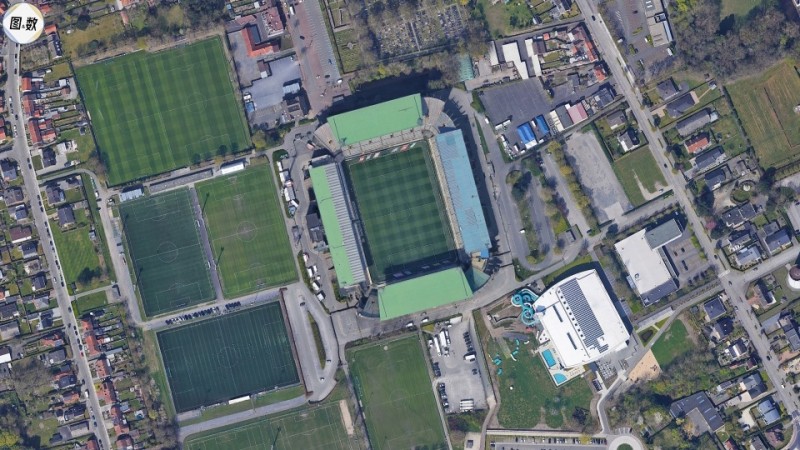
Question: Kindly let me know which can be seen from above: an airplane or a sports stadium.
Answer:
sports stadium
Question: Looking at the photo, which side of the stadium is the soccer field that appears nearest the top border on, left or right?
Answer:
on its left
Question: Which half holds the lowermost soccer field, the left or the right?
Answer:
left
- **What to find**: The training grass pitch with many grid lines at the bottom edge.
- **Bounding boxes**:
[184,401,359,450]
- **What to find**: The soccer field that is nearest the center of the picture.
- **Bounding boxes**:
[346,142,458,284]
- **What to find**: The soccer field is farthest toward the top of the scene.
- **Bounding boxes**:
[76,35,252,187]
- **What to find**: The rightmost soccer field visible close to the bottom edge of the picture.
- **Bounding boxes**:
[346,333,448,450]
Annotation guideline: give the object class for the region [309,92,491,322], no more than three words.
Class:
stadium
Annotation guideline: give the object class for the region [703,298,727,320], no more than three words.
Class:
house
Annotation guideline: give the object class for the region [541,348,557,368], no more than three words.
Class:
swimming pool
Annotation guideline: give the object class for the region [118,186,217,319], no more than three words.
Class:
soccer field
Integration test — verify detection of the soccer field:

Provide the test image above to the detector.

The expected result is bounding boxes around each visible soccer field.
[346,142,458,284]
[118,186,217,319]
[196,162,300,301]
[184,401,359,450]
[156,302,302,413]
[346,333,448,450]
[76,35,252,187]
